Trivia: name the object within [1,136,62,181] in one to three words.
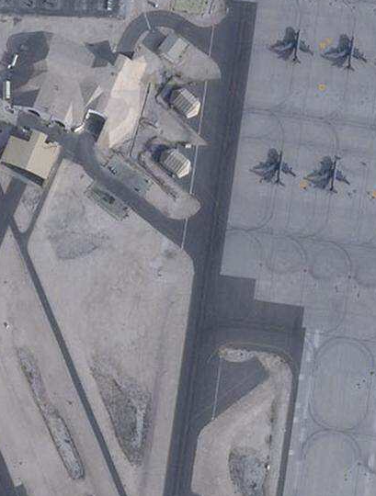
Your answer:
hangar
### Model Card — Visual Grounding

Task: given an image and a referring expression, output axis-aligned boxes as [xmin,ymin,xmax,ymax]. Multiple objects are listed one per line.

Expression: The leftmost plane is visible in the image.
[261,152,296,183]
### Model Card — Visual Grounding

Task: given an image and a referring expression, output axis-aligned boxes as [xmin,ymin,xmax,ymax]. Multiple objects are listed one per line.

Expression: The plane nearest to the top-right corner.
[333,36,368,68]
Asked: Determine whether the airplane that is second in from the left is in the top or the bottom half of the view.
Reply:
top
